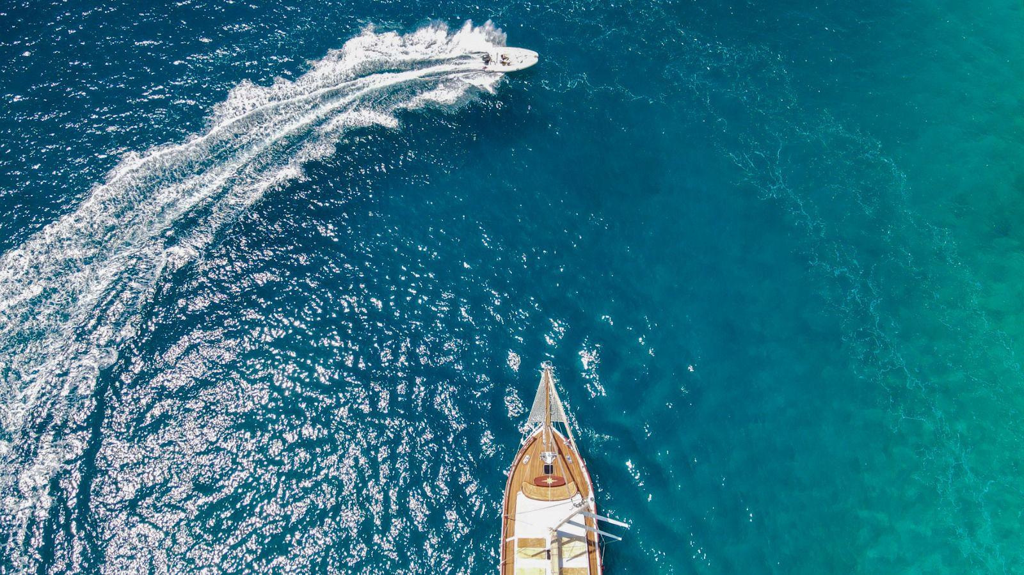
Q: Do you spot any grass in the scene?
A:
No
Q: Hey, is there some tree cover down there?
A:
No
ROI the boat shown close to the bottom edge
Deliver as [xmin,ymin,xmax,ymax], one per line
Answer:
[498,365,629,575]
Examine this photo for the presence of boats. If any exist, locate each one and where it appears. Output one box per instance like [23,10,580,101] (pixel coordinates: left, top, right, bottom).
[479,48,539,72]
[498,365,629,575]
